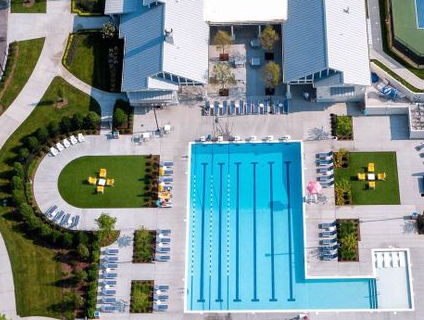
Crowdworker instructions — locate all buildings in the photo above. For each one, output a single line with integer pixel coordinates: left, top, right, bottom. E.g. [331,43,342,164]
[284,0,371,103]
[104,0,210,106]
